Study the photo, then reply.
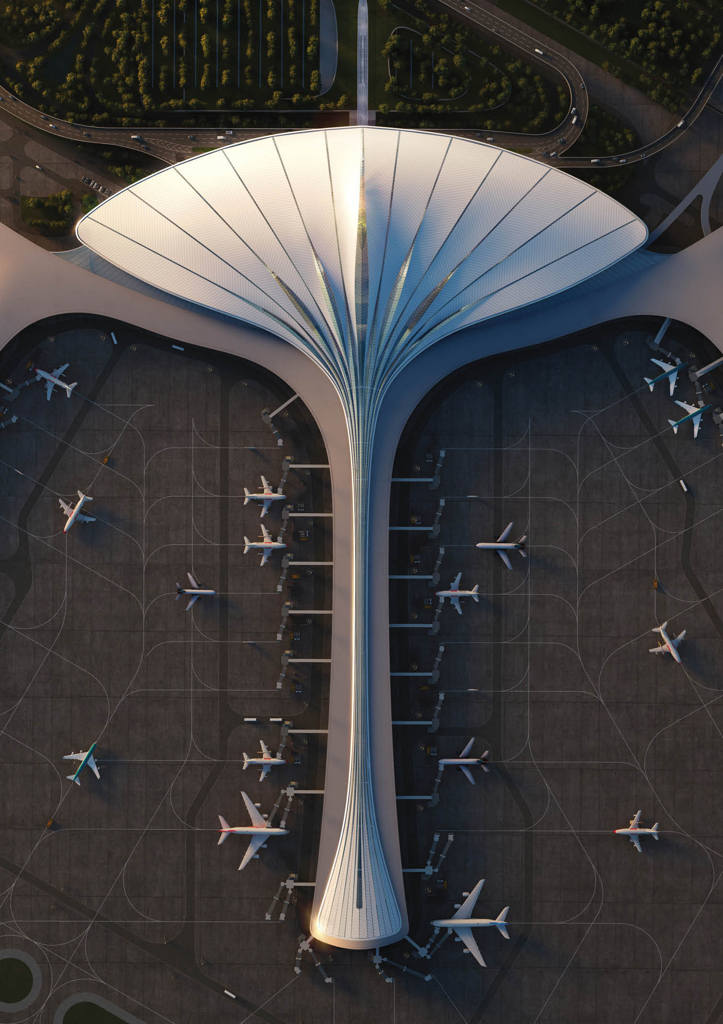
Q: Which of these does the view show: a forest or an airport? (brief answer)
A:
airport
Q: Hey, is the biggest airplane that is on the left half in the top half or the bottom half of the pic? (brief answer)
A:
bottom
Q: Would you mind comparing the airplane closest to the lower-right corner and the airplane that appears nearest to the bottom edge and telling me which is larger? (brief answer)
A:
the airplane that appears nearest to the bottom edge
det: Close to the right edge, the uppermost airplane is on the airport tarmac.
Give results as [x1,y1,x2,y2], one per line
[644,358,689,396]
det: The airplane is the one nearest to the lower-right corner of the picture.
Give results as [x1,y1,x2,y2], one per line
[614,810,661,853]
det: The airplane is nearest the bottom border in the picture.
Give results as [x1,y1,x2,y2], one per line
[431,881,510,968]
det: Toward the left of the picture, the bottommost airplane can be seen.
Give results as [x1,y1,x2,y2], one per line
[215,792,289,872]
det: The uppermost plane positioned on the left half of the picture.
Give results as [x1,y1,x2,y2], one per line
[34,363,75,400]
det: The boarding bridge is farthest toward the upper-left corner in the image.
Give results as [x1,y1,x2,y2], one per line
[0,373,43,401]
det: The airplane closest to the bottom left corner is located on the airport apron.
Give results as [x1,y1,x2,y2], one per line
[61,743,99,788]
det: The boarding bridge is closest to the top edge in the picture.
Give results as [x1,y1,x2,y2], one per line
[643,318,683,365]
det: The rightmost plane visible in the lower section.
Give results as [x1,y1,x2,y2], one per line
[650,621,688,664]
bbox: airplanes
[476,521,527,571]
[667,401,712,439]
[34,363,75,400]
[243,525,288,567]
[650,621,688,664]
[431,881,510,968]
[438,737,490,787]
[57,489,95,533]
[614,810,661,853]
[244,476,288,518]
[242,740,288,782]
[175,572,216,611]
[61,743,99,788]
[434,572,480,615]
[215,792,289,872]
[644,358,689,396]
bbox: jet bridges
[265,871,315,920]
[277,456,330,495]
[277,554,333,592]
[688,358,723,408]
[389,546,444,587]
[0,415,19,431]
[392,450,444,490]
[391,643,444,684]
[389,595,444,635]
[260,395,297,446]
[295,932,333,983]
[393,692,444,733]
[397,762,444,807]
[389,498,444,538]
[276,721,328,760]
[368,948,433,982]
[0,373,43,401]
[277,602,332,641]
[266,779,324,827]
[277,505,333,544]
[643,318,683,365]
[276,650,331,689]
[406,926,452,959]
[712,405,723,442]
[403,832,453,880]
